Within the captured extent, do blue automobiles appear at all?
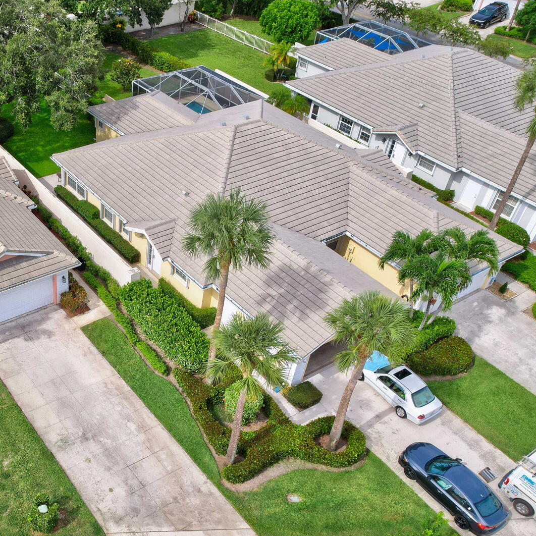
Yes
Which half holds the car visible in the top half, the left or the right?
right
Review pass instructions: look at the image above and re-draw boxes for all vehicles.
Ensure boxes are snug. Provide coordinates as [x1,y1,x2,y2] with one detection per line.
[402,446,519,536]
[360,359,446,424]
[472,2,510,26]
[494,447,536,519]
